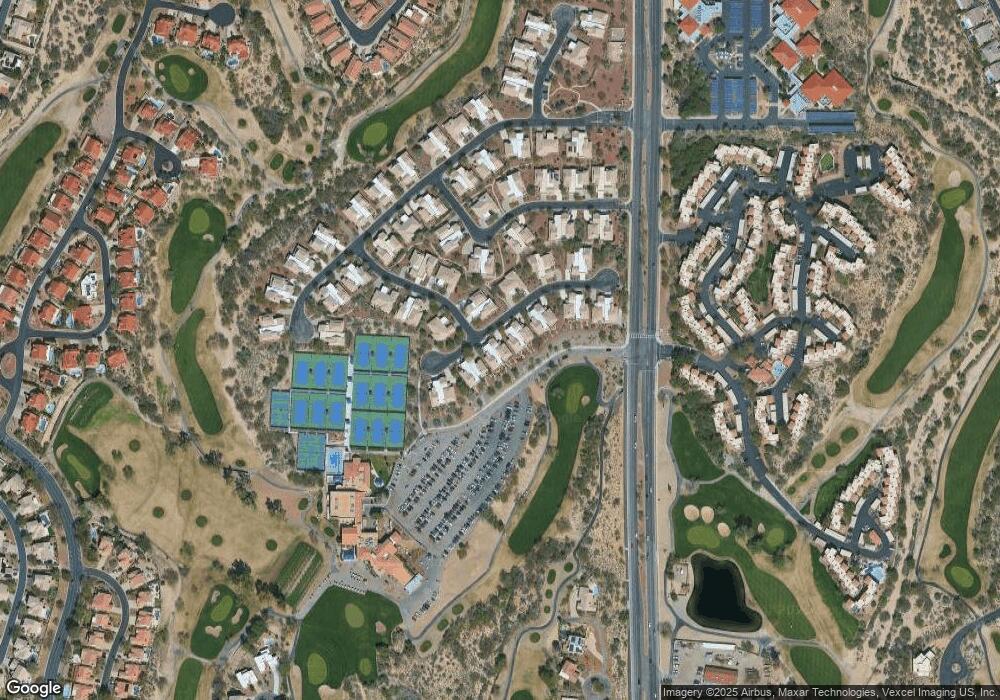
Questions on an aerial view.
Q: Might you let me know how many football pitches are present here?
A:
none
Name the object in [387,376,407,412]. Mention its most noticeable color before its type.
blue tennis court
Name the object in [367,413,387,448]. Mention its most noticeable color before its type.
blue tennis court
